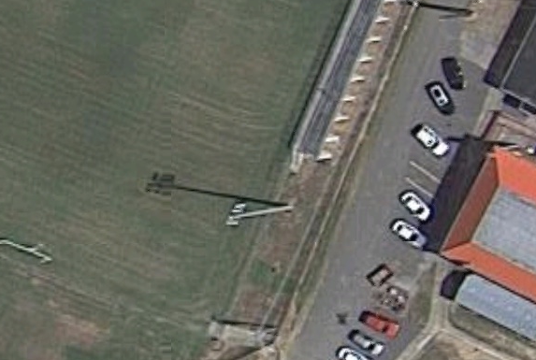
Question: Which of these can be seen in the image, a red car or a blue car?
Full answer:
This aerial view contains a red car.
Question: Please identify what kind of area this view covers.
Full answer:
What you see here is a sports ground.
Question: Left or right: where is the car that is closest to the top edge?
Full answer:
The car that is closest to the top edge is on the right side of the image.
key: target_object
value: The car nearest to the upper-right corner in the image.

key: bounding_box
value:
[443,54,465,91]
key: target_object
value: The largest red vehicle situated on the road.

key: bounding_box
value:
[363,311,398,338]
